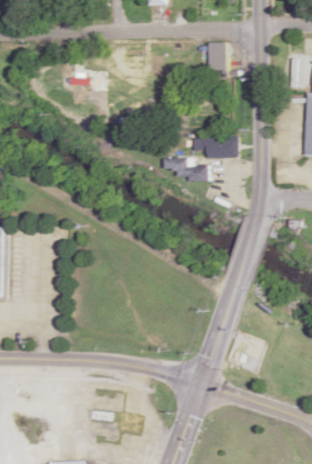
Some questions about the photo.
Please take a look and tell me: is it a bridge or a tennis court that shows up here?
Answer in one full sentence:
Looking from above, you can make out a bridge.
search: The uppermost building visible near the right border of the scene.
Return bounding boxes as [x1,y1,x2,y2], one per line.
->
[291,56,312,88]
